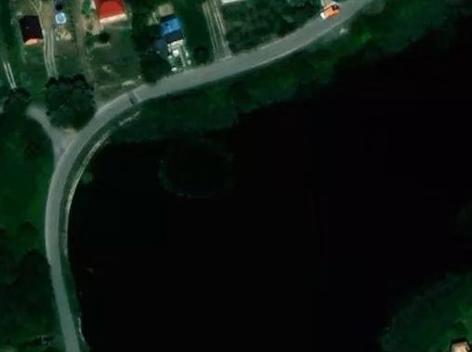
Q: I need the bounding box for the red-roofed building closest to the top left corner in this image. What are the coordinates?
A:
[95,0,125,22]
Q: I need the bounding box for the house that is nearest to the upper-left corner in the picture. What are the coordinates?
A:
[21,13,44,43]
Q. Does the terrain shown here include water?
Yes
